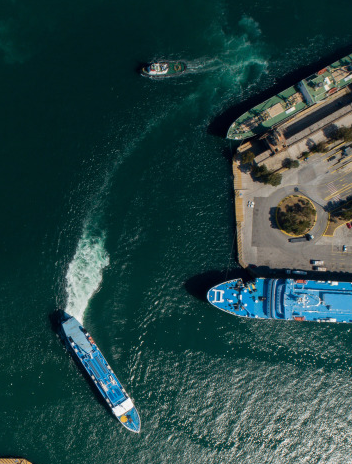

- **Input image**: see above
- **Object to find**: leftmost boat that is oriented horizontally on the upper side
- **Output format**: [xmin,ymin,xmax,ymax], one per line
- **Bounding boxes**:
[140,61,187,77]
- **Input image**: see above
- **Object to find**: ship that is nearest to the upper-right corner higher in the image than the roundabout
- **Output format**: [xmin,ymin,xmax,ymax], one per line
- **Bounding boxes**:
[227,53,352,139]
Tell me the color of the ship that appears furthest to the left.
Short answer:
blue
